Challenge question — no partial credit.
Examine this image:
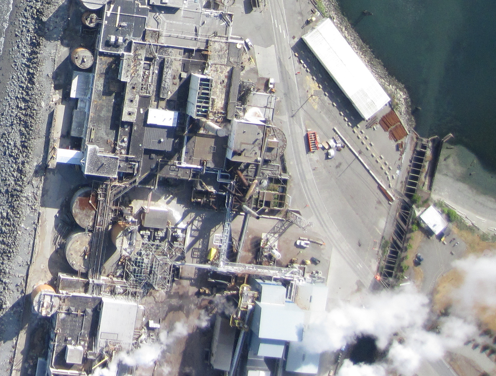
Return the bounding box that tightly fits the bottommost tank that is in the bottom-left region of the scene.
[30,281,62,317]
